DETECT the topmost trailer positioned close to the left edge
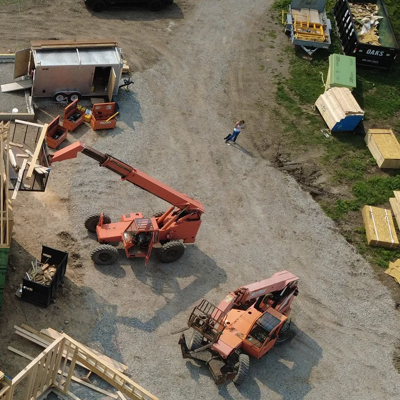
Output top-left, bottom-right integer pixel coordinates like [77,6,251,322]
[1,42,139,100]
